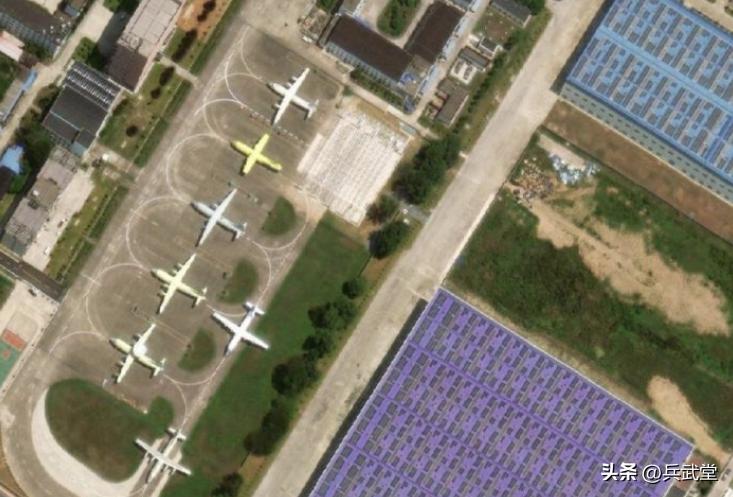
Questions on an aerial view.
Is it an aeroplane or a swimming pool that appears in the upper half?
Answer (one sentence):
There is an aeroplane in the upper half.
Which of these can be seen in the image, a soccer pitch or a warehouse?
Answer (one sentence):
The image shows a warehouse.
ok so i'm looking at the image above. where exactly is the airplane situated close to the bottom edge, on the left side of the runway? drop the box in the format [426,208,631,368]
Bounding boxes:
[137,428,190,483]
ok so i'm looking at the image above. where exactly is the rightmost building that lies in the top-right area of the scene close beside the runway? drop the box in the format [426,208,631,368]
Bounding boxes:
[560,0,733,204]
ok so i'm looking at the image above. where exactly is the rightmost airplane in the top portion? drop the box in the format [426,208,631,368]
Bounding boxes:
[268,66,321,124]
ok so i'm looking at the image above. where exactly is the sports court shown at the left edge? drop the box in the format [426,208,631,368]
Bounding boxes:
[0,329,27,389]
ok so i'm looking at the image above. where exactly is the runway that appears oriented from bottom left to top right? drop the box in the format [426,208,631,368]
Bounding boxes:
[253,0,616,497]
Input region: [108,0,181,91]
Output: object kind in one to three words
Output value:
building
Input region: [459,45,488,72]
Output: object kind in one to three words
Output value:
shed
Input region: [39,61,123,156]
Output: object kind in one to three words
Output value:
building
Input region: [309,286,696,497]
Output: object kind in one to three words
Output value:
warehouse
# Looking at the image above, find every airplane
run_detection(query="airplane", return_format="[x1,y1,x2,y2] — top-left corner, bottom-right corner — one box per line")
[233,132,282,173]
[212,302,269,355]
[268,66,321,124]
[137,428,190,483]
[191,187,248,246]
[152,252,208,312]
[110,323,166,382]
